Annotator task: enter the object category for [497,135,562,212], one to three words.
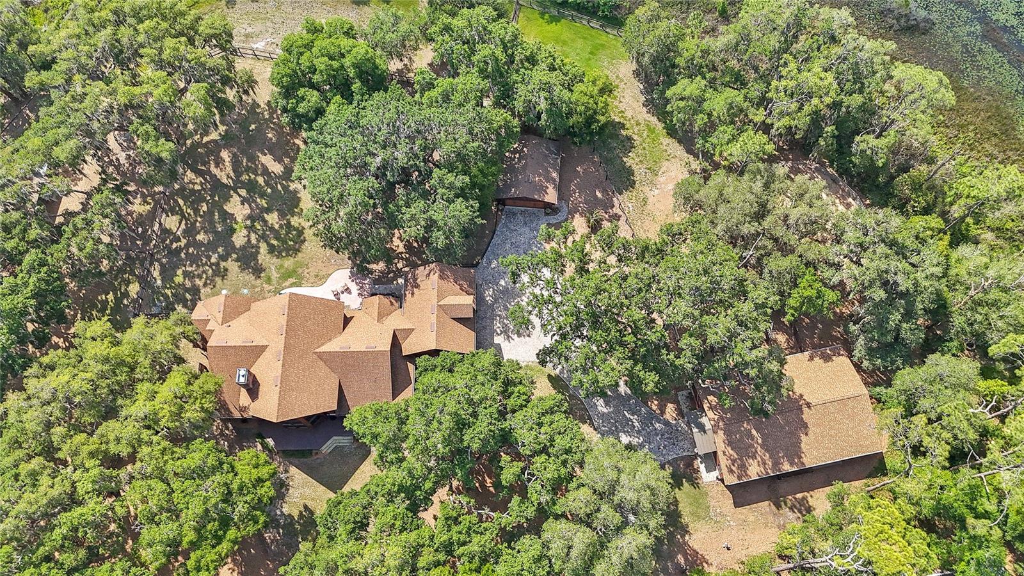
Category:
building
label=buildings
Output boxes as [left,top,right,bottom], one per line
[497,135,562,212]
[192,264,477,428]
[695,345,882,486]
